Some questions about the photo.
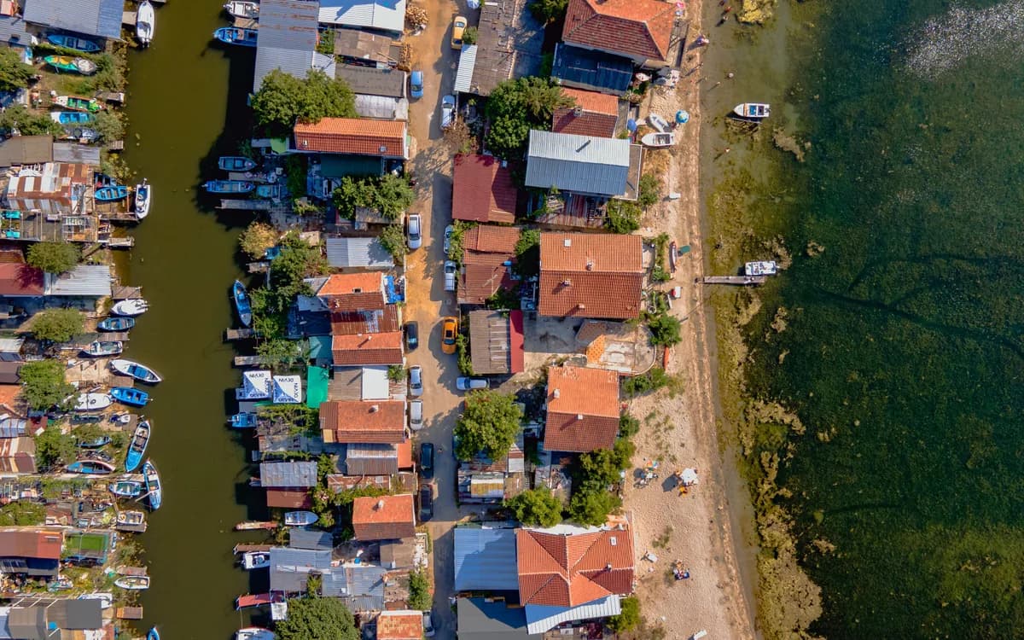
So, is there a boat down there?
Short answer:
Yes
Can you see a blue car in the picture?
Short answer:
Yes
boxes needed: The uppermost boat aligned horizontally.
[222,1,259,18]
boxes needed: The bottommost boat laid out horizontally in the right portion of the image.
[744,261,781,276]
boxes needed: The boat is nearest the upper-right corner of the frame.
[734,102,775,117]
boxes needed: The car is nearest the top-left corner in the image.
[409,70,425,101]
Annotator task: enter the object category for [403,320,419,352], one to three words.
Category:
car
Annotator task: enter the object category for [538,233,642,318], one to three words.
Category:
house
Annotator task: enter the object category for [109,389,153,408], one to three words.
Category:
boat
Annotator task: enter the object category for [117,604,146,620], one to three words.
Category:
pier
